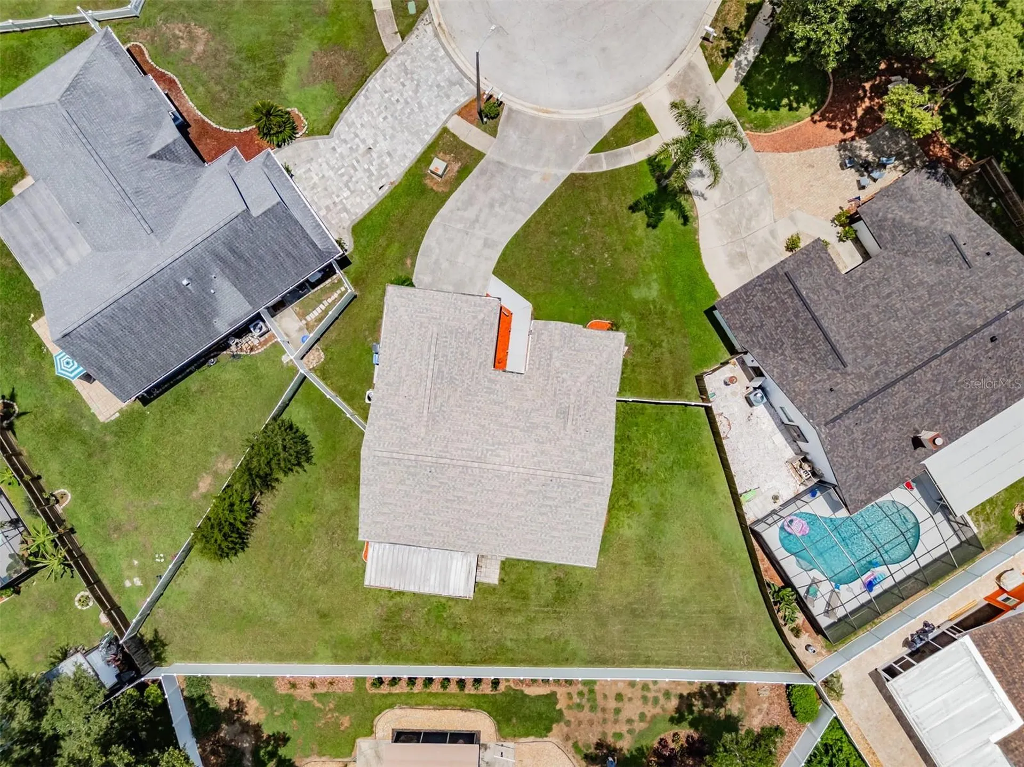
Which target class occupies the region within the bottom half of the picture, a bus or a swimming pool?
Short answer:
swimming pool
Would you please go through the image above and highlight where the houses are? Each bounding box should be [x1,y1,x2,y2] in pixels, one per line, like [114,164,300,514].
[0,26,343,403]
[865,584,1024,767]
[380,729,481,767]
[710,159,1024,516]
[358,285,629,599]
